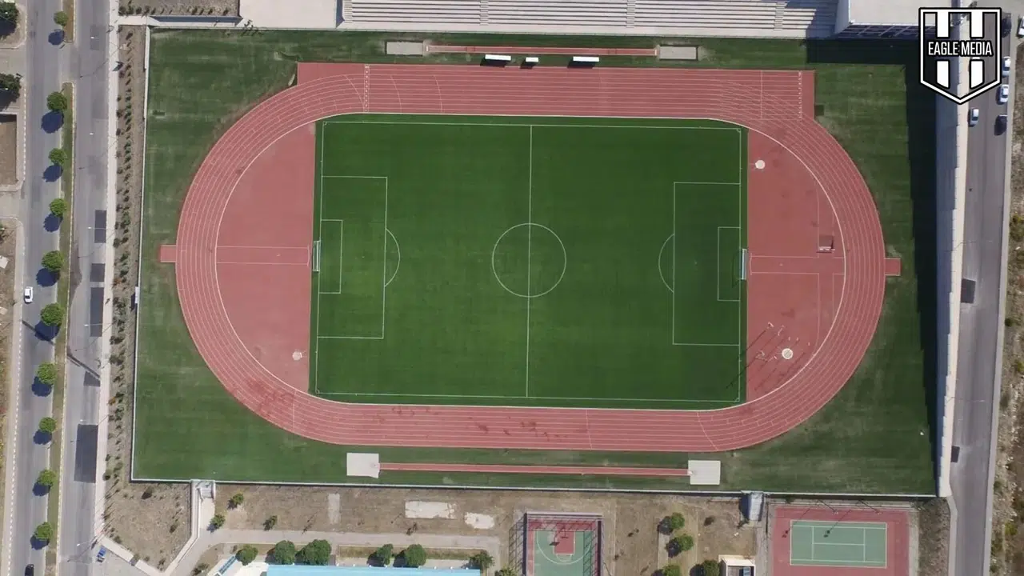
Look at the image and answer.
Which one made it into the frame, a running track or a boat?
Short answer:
running track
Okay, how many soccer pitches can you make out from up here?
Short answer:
one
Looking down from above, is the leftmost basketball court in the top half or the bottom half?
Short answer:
bottom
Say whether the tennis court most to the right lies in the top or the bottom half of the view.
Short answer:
bottom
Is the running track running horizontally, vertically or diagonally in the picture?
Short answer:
horizontally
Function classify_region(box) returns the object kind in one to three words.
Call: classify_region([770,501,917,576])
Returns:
tennis court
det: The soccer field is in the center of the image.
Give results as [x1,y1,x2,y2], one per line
[307,114,747,410]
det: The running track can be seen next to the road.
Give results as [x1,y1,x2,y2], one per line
[160,62,901,451]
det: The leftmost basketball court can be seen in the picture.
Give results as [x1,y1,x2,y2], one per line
[527,516,601,576]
